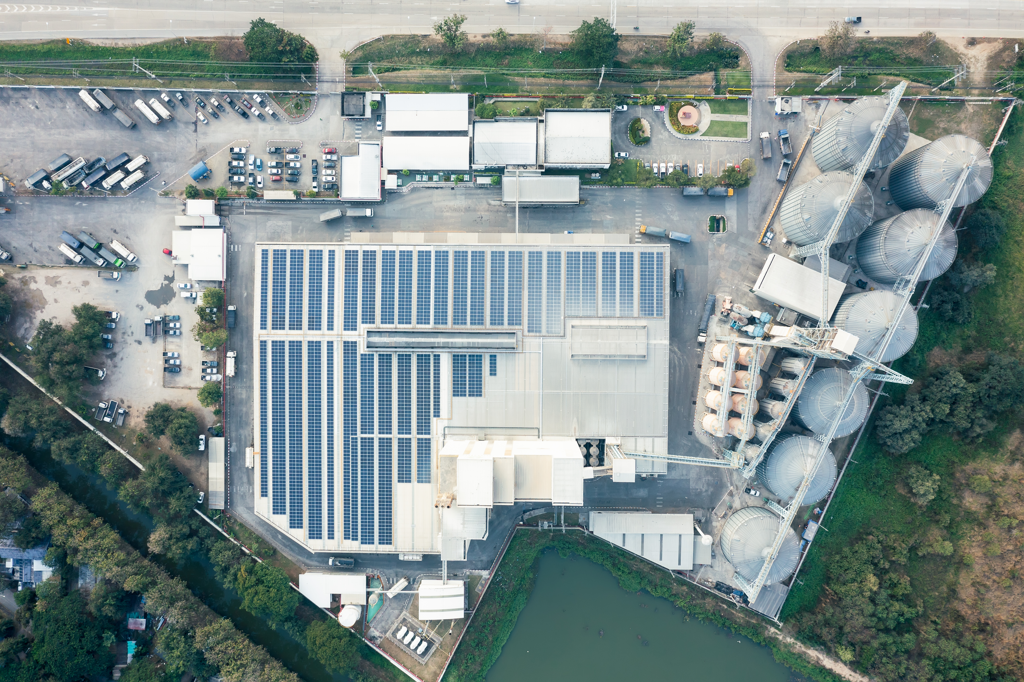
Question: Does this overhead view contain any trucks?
Yes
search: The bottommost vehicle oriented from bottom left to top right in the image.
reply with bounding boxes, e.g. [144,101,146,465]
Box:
[387,573,413,598]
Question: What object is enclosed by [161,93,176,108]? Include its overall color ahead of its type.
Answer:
white vehicle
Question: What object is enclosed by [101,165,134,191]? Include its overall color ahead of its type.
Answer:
white truck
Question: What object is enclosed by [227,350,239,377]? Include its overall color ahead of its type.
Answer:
white vehicle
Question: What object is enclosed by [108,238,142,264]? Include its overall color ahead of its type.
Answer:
white truck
